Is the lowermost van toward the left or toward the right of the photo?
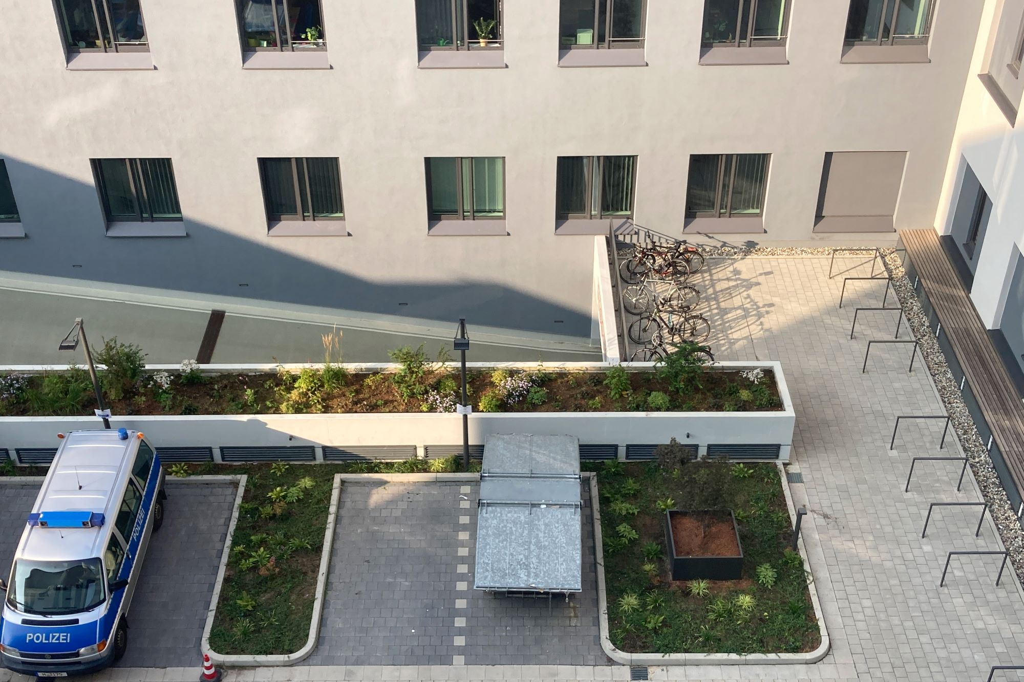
left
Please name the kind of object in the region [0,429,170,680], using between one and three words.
van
